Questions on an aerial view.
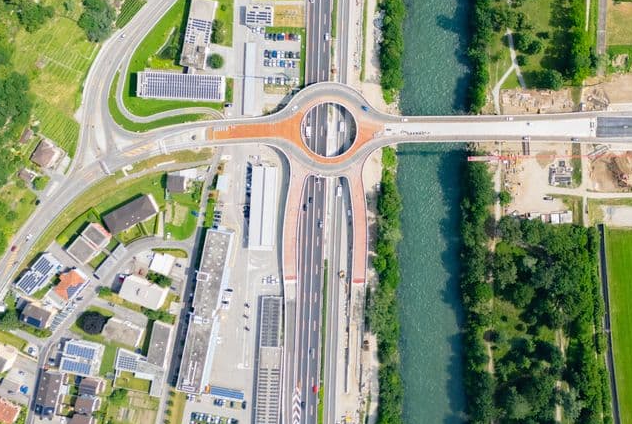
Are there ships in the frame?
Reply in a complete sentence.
No, the scene contains no ship.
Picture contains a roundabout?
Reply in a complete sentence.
Yes, this view includes a roundabout.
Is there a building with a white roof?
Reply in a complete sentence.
Yes, this view includes a building with a white roof.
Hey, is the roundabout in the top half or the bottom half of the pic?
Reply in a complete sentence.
You can find the roundabout in the top half.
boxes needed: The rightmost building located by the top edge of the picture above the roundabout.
[246,4,275,28]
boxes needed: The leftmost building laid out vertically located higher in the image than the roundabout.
[180,0,221,71]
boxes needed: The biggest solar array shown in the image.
[141,74,221,98]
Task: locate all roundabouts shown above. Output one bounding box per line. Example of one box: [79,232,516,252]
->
[139,82,419,186]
